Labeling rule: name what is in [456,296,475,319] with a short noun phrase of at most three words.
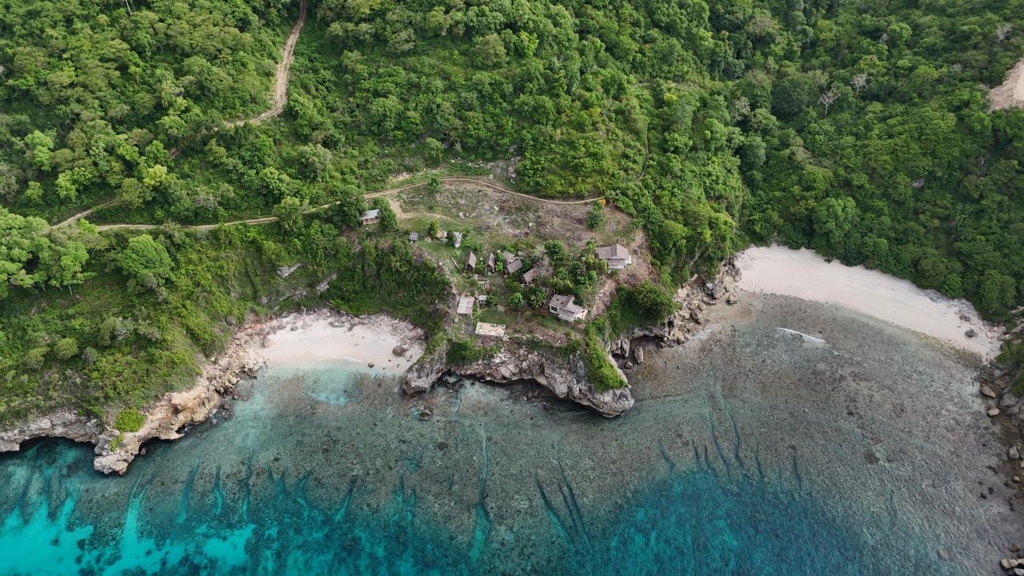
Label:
shed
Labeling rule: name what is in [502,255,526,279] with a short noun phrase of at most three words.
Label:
shed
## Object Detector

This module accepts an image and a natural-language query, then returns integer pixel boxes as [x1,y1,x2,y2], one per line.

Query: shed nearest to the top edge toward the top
[358,208,381,230]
